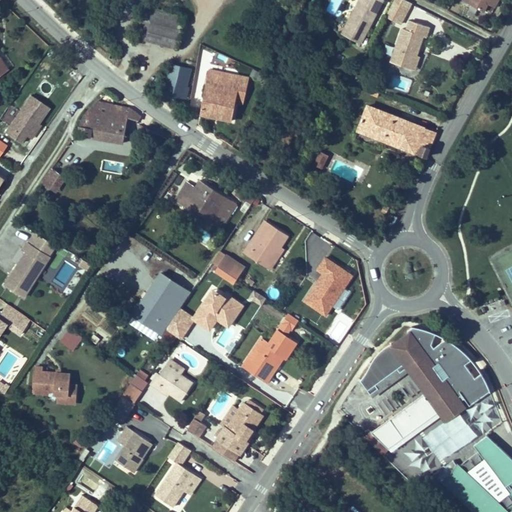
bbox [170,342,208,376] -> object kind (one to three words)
swimming pool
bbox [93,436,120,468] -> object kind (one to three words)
swimming pool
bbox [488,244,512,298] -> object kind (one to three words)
tennis court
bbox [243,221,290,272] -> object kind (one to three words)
house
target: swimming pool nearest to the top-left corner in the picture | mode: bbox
[100,159,124,174]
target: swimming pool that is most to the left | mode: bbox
[0,346,27,383]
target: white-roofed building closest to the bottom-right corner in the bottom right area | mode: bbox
[469,460,509,502]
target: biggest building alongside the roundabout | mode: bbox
[360,330,490,424]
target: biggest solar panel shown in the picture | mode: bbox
[20,262,44,291]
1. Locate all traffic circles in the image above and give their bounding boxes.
[369,232,449,311]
